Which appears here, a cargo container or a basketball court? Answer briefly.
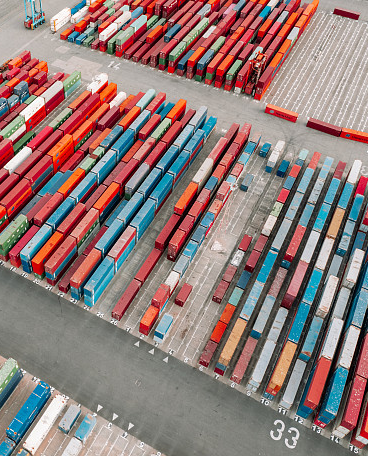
cargo container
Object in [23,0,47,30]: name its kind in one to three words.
work vehicle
